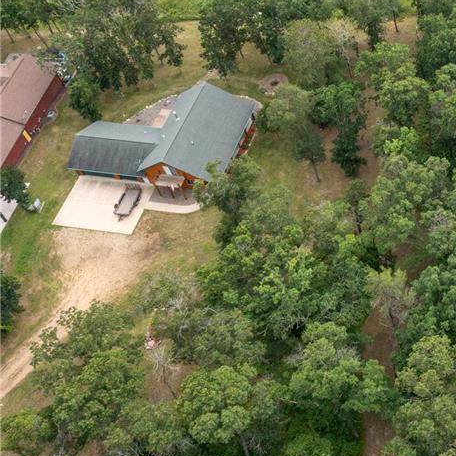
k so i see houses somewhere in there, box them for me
[0,58,57,173]
[64,83,258,199]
